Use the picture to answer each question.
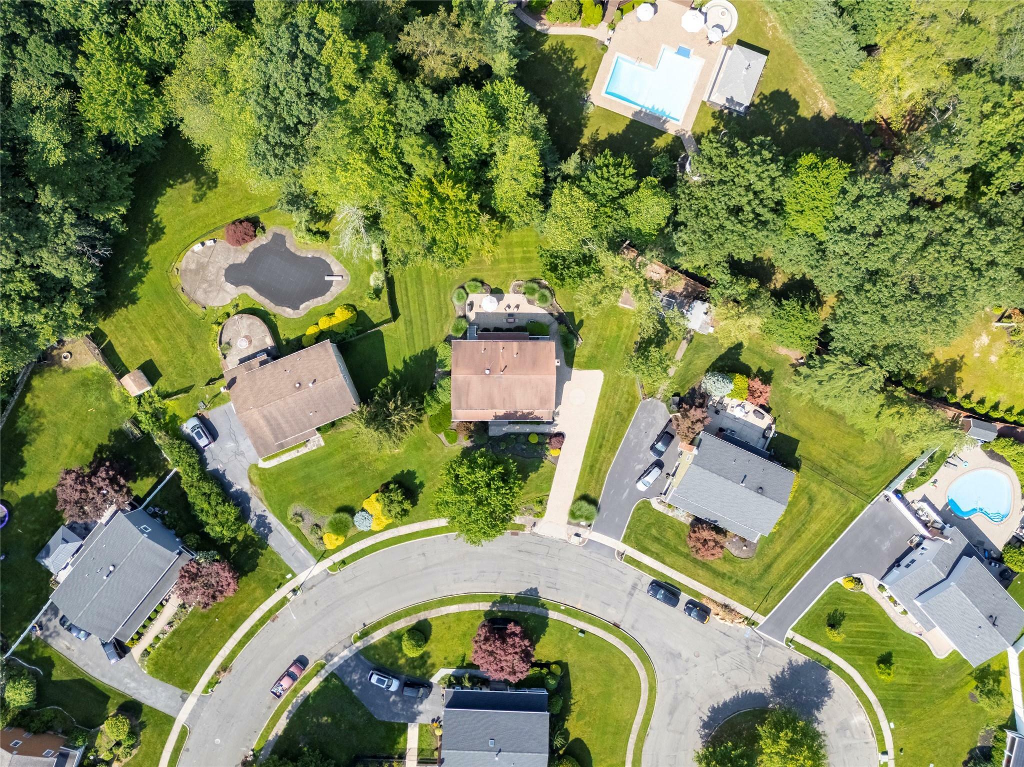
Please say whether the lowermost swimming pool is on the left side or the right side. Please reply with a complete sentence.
You can find the lowermost swimming pool on the right side of the picture.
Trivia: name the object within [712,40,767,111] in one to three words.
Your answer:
building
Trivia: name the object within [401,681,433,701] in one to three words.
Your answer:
car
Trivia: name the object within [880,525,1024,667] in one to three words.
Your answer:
house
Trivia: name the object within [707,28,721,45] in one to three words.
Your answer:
umbrella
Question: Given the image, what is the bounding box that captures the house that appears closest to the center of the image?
[451,325,561,426]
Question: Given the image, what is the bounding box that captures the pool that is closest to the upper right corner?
[603,43,706,123]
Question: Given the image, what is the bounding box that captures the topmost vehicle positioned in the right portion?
[649,427,676,460]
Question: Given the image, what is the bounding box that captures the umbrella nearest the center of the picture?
[482,296,498,312]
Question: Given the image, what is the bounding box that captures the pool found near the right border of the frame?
[946,468,1015,524]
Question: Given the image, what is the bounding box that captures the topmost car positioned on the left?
[186,417,214,450]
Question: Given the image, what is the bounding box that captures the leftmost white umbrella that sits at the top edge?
[637,5,653,23]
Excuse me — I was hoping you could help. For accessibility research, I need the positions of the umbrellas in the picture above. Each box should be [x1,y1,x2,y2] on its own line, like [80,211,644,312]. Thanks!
[637,5,653,23]
[733,405,745,417]
[682,12,703,34]
[707,28,721,45]
[482,296,498,312]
